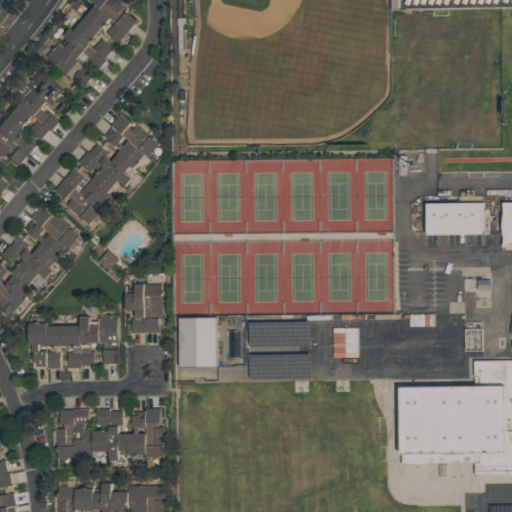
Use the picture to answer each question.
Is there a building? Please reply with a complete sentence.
Yes, the image includes a building.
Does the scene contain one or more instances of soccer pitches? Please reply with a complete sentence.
Yes, this view includes a soccer pitch.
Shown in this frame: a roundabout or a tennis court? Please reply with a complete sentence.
I can see a tennis court in this picture.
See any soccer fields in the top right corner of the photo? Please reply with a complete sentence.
Yes, there is a soccer field in the top right corner of the photo.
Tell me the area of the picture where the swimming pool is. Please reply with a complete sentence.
The swimming pool is located in the left region of the scene.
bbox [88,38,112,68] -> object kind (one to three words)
building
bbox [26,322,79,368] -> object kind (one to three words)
house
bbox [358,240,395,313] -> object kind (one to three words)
tennis court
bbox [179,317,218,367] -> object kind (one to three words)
shed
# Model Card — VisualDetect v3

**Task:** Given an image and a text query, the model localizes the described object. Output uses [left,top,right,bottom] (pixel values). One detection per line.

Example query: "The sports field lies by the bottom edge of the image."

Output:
[180,385,465,512]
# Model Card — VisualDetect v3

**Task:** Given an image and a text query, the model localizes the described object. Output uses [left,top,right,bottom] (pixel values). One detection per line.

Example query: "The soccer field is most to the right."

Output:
[392,9,504,150]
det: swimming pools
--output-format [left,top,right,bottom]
[108,218,150,268]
